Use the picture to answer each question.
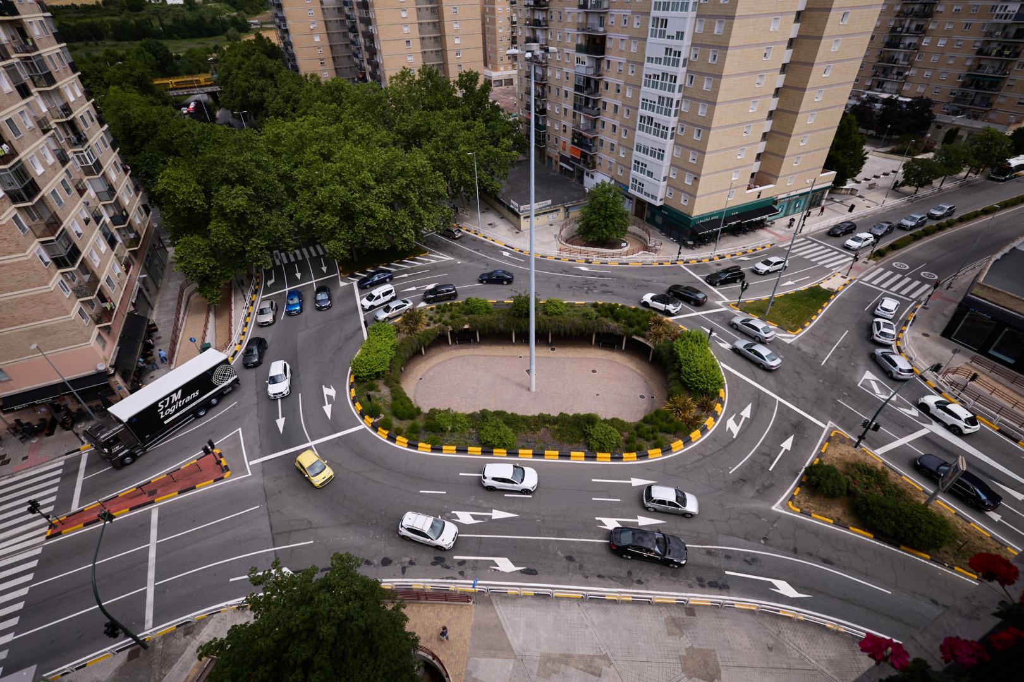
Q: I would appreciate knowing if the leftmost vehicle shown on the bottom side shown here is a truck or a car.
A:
truck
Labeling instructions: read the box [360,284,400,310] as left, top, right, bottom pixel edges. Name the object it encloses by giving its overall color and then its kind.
white vehicle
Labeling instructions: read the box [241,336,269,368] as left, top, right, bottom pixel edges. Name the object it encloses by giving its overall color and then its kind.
black car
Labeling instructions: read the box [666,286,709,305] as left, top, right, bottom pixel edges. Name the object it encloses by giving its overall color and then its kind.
black car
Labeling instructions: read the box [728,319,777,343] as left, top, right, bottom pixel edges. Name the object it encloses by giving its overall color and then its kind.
gray car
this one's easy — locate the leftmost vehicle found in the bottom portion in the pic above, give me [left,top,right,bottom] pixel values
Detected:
[76,349,242,473]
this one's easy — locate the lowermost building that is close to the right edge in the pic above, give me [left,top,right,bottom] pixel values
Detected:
[941,223,1024,372]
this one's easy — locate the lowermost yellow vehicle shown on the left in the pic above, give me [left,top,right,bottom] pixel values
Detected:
[294,449,332,489]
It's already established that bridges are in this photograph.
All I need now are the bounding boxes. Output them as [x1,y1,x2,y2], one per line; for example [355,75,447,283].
[159,80,246,102]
